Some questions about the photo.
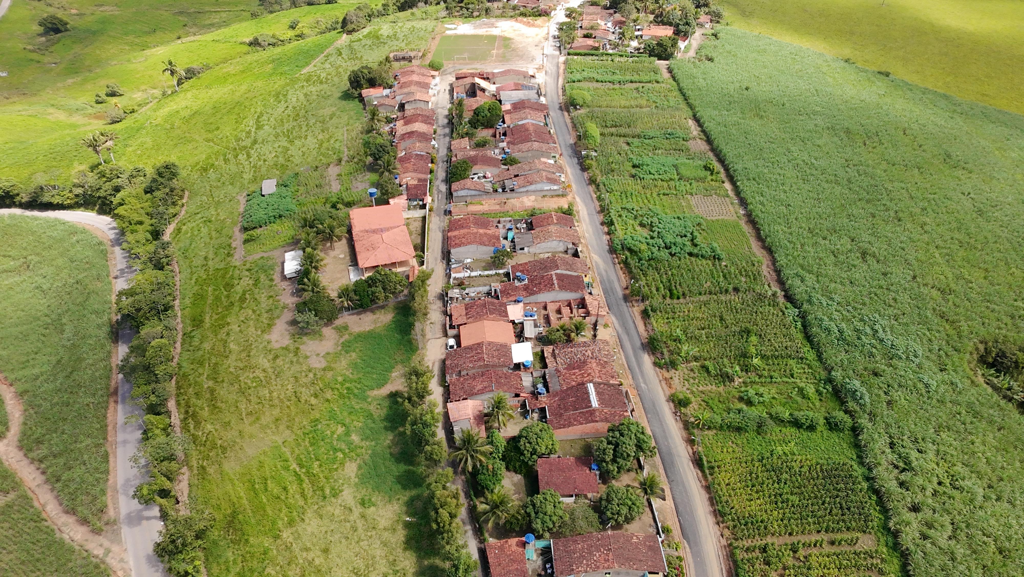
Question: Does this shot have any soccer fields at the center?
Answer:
No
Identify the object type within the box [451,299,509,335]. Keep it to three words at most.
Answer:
house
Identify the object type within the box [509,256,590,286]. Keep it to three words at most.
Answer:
house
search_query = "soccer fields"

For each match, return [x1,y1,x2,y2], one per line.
[433,35,497,60]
